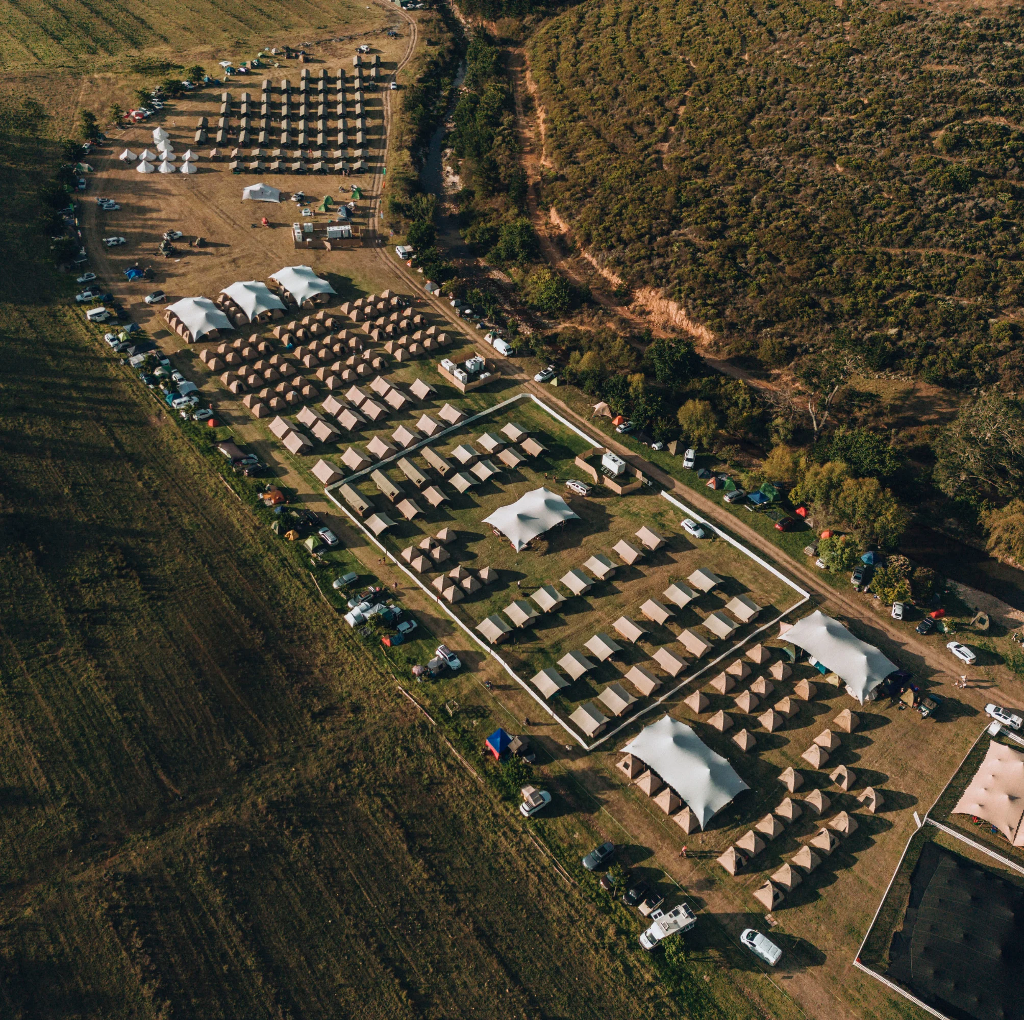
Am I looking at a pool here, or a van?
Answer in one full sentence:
Of the two, only a van appears.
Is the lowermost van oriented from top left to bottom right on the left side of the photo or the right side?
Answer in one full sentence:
It is on the right.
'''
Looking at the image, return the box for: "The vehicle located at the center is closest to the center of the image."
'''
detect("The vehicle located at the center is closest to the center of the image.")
[564,480,594,498]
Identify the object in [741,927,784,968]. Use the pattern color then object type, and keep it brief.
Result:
white van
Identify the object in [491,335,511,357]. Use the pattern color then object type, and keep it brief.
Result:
white vehicle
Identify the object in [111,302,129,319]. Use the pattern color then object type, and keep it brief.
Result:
black car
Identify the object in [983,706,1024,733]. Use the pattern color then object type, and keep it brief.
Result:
white truck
